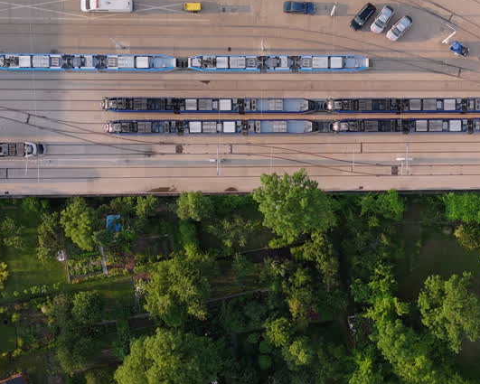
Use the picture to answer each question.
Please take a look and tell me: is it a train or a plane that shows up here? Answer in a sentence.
It is a train that can be seen here.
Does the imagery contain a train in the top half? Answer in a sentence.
Yes, a train can be seen in the top half.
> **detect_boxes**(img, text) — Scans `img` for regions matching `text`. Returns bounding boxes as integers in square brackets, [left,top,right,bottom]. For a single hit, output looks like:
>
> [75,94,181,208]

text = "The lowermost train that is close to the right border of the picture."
[325,117,480,136]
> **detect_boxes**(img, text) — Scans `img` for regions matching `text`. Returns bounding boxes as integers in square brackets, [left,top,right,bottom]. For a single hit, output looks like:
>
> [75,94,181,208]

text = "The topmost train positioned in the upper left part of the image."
[0,54,182,73]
